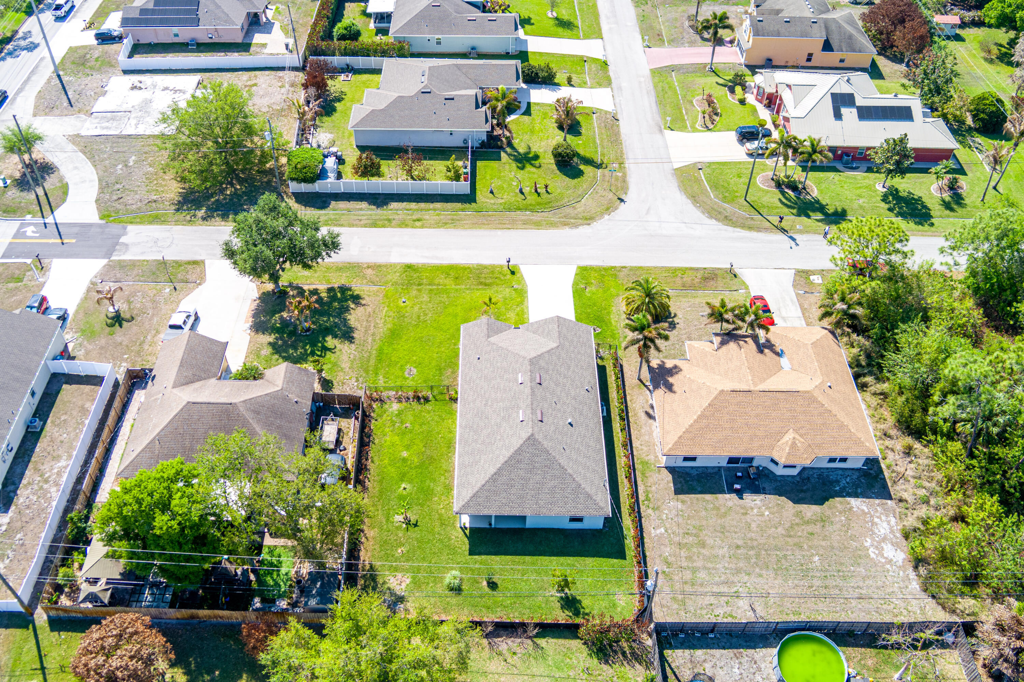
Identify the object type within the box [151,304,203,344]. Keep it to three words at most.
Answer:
truck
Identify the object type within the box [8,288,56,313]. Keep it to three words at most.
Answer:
car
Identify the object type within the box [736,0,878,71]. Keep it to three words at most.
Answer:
house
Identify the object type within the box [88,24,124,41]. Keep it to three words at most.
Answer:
car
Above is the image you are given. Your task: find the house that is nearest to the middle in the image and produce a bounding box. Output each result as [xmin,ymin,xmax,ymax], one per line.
[452,315,613,530]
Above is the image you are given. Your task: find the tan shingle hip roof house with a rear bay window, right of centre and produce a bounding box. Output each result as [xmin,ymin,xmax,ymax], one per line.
[645,326,882,478]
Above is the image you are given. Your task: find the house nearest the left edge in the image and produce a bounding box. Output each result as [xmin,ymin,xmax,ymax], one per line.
[0,305,76,485]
